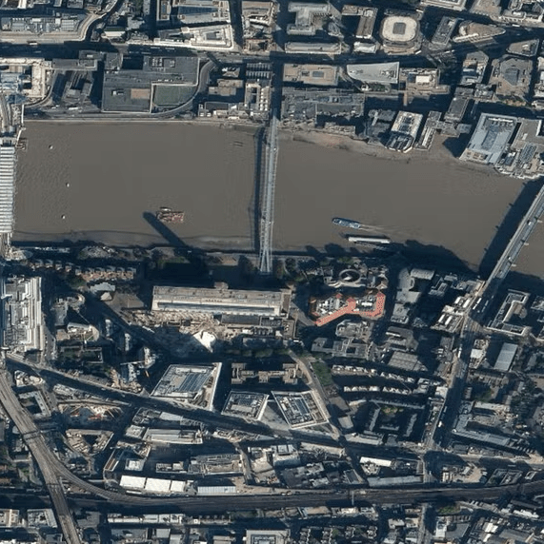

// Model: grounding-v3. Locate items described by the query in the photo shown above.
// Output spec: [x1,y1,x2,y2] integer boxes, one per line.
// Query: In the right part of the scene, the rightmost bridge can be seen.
[481,181,544,288]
